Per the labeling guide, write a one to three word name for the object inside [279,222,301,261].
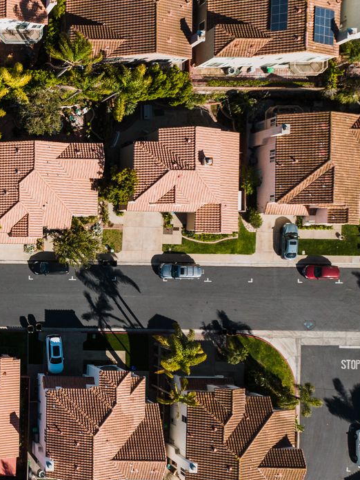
car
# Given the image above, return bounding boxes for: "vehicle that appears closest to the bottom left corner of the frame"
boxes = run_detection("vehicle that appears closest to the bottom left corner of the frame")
[46,334,66,374]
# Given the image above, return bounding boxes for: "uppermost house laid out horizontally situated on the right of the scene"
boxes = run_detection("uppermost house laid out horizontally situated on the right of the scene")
[193,0,358,80]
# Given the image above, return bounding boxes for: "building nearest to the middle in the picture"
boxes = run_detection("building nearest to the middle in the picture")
[117,125,240,234]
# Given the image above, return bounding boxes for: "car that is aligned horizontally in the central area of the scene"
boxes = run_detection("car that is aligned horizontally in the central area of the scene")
[160,262,202,280]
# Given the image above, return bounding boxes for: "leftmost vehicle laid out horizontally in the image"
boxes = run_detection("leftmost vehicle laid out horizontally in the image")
[29,259,69,276]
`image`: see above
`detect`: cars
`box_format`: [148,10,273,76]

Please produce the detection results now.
[279,222,301,261]
[303,264,343,282]
[160,262,202,280]
[46,334,66,374]
[29,259,69,276]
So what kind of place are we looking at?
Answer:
residential area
